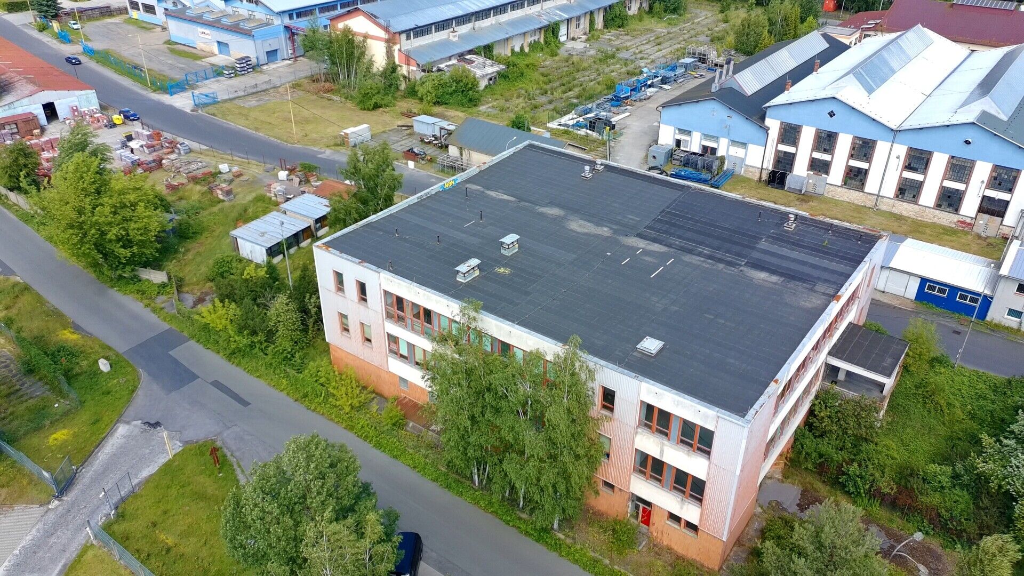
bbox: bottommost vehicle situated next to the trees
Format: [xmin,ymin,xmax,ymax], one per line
[385,533,425,576]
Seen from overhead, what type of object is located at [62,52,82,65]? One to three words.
vehicle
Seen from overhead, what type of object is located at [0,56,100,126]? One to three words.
shed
